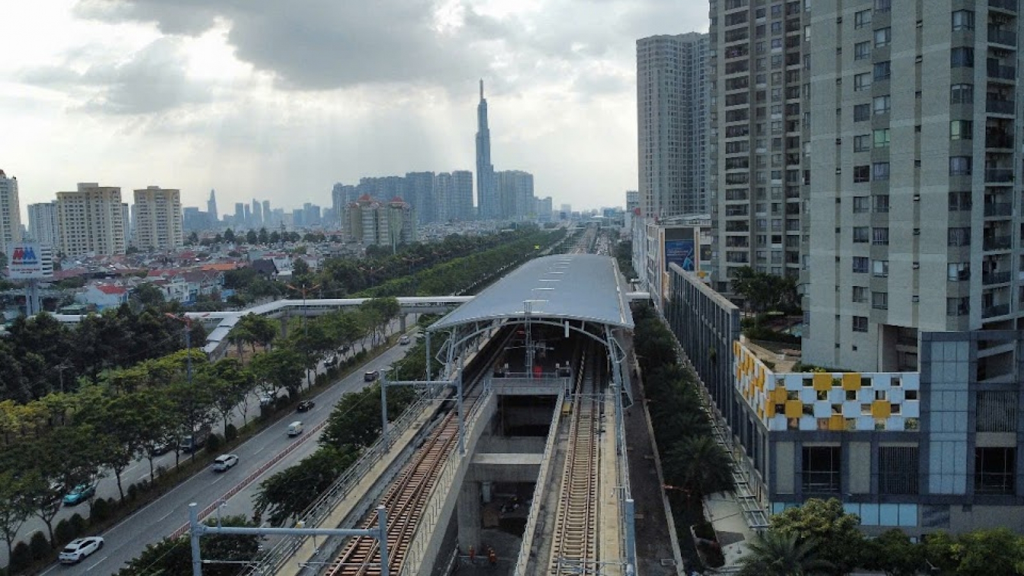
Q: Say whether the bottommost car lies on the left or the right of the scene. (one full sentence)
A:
The bottommost car is on the left side of the image.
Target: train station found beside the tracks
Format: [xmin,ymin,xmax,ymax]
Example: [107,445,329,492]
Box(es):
[428,253,637,445]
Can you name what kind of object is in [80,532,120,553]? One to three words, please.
car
